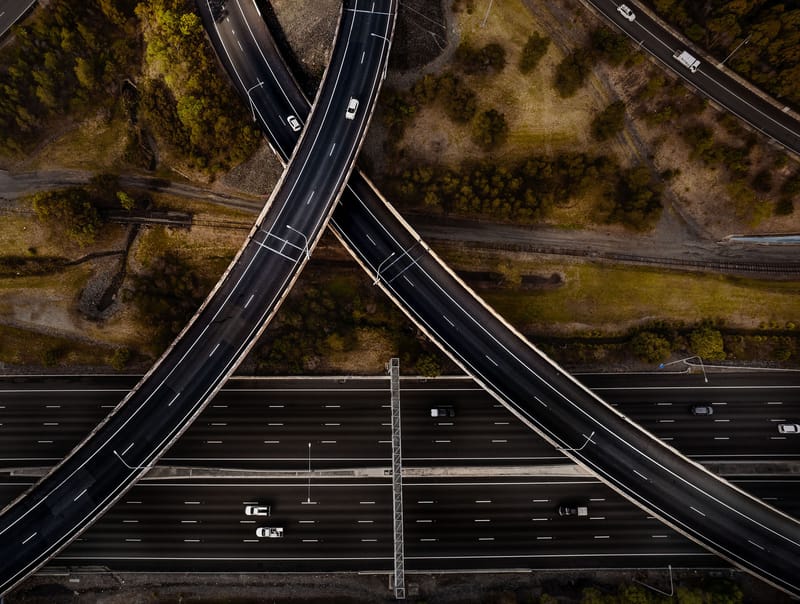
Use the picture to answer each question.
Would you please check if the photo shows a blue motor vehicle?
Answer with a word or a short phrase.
No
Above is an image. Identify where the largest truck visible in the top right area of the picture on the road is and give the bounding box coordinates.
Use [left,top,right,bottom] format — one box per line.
[672,45,702,71]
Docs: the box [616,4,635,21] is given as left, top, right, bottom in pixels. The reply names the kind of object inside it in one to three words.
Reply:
car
